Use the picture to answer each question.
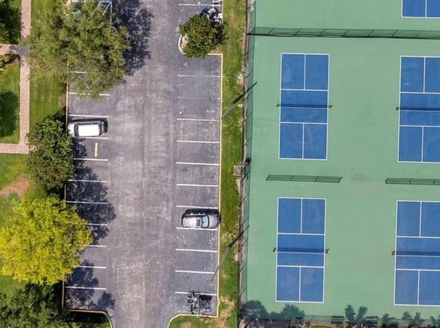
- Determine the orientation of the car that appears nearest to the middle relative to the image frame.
horizontally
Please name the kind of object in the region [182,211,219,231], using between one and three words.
car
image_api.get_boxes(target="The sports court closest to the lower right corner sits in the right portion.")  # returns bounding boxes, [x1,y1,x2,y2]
[394,200,440,306]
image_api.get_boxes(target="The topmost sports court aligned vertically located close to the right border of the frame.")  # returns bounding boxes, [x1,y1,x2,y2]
[397,56,440,163]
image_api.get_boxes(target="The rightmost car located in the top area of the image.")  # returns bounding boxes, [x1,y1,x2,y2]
[70,121,107,140]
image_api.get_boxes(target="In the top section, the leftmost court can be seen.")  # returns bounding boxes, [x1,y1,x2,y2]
[278,54,330,160]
